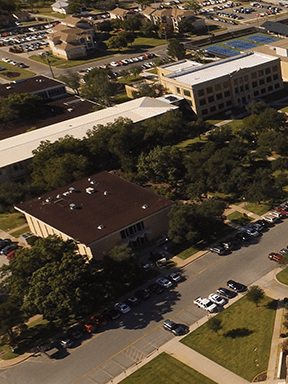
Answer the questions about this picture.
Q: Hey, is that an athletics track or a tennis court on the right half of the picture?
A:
tennis court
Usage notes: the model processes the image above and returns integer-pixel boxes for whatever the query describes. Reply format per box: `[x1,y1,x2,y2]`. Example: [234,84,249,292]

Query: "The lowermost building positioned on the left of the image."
[14,172,173,257]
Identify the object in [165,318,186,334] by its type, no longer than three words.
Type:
car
